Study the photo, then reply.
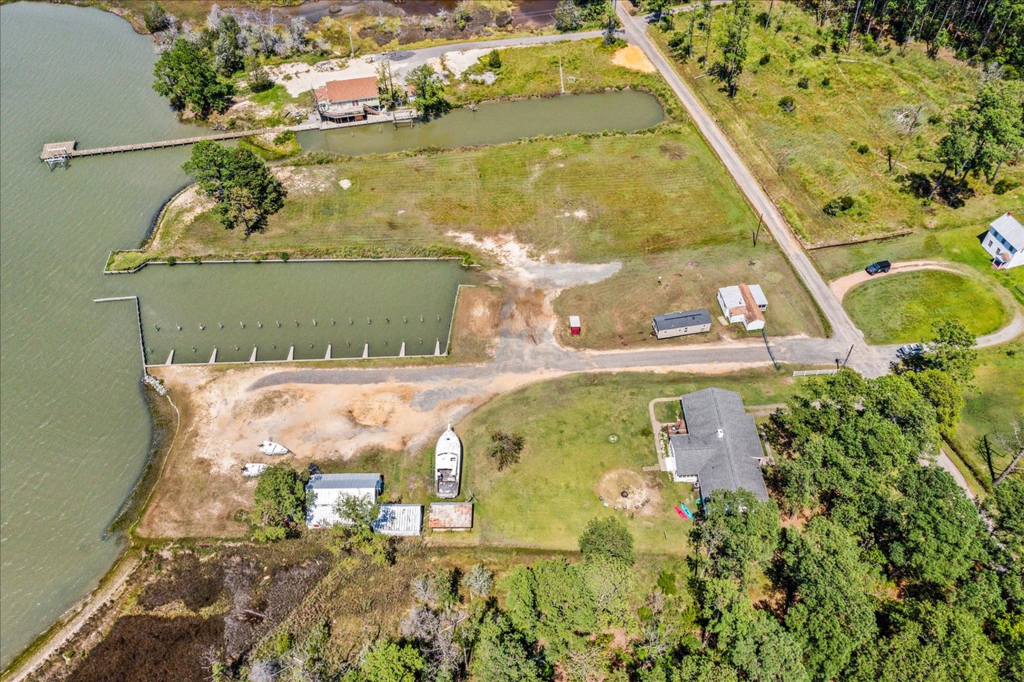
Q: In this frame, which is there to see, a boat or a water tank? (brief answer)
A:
boat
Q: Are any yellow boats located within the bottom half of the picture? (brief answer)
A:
No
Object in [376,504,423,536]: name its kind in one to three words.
shed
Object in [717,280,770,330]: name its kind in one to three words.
house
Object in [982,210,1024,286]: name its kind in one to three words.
house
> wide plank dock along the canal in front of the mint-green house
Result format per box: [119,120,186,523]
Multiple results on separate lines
[298,110,419,134]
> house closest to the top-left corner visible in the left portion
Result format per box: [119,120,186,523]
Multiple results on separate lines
[313,76,380,126]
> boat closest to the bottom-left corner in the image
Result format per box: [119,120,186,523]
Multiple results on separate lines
[238,464,277,479]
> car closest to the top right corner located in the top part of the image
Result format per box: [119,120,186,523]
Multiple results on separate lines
[865,260,891,274]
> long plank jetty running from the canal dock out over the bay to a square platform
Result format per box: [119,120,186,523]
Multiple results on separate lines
[39,130,291,164]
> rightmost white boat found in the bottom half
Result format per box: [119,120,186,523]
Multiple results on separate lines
[434,421,461,497]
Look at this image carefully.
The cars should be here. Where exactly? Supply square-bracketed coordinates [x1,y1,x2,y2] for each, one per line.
[899,340,928,355]
[865,260,891,274]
